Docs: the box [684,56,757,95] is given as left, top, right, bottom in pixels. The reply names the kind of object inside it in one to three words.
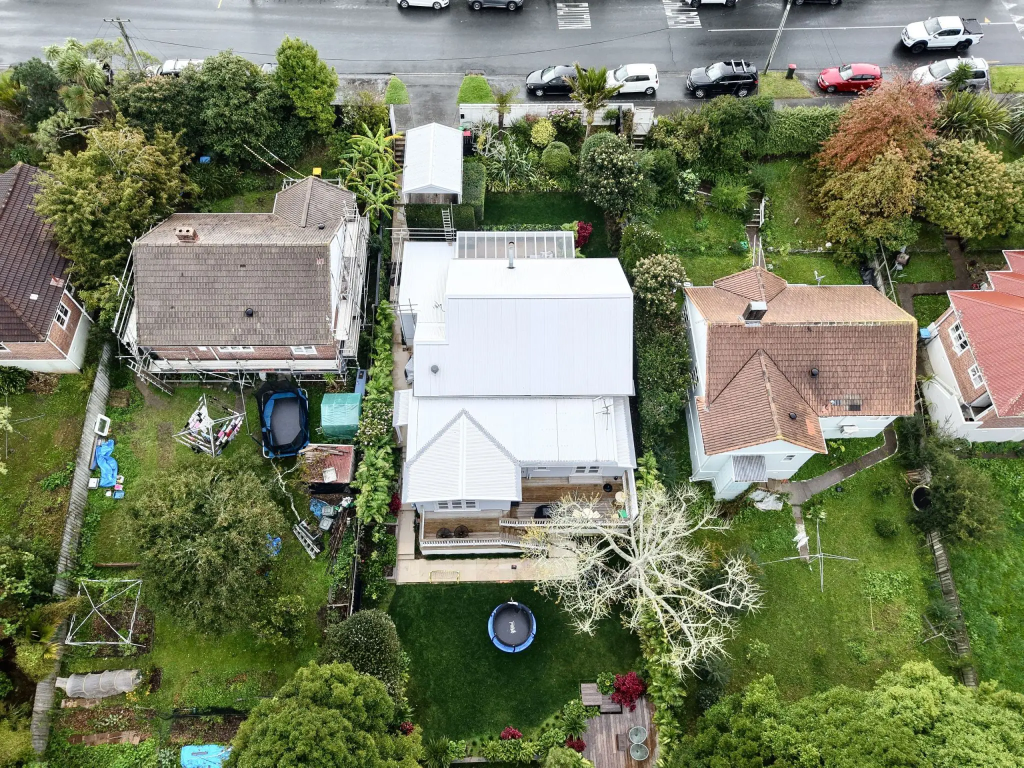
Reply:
car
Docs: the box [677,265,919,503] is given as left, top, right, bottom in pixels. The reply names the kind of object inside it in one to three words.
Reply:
house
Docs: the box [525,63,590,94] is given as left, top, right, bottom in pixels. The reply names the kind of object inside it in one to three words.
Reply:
car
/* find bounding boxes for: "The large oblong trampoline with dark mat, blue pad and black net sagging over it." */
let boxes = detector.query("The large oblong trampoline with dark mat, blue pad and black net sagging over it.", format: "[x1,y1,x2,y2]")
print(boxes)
[254,382,311,462]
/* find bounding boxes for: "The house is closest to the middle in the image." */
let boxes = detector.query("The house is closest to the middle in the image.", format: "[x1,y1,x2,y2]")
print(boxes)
[393,242,636,518]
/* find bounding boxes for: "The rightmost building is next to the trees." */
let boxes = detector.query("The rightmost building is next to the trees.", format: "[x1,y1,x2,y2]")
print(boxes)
[931,248,1024,441]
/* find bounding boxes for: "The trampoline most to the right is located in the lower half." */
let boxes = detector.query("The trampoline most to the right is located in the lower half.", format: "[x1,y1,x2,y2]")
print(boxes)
[489,601,537,656]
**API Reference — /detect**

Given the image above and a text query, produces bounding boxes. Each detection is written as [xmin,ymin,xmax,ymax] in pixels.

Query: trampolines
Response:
[489,601,537,656]
[254,382,311,462]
